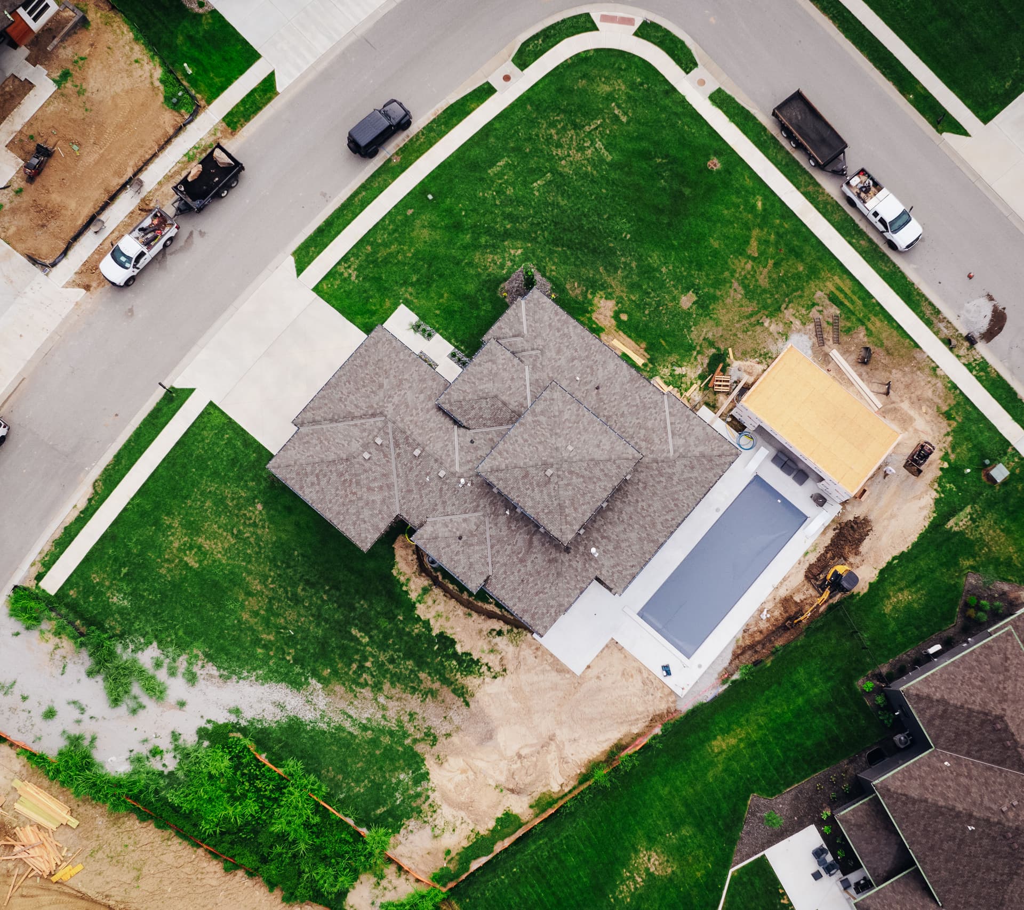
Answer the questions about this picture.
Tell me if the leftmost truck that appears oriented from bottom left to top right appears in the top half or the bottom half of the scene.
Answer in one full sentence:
The leftmost truck that appears oriented from bottom left to top right is in the top half of the image.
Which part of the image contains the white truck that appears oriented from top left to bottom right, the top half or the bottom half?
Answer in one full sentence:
The white truck that appears oriented from top left to bottom right sits in the top half of the picture.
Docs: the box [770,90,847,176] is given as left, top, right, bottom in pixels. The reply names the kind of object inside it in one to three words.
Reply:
trailer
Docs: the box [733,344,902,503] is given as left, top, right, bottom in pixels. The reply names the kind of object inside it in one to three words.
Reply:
building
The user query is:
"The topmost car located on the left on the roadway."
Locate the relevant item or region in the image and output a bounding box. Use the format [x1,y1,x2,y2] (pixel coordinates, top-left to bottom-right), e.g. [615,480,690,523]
[350,99,411,151]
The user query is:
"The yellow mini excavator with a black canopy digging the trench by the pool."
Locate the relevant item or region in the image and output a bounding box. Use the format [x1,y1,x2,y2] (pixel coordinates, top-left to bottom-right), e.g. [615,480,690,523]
[787,567,863,629]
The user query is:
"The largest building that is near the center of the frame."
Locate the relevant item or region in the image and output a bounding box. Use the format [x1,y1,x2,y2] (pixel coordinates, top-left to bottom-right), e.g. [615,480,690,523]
[266,285,743,638]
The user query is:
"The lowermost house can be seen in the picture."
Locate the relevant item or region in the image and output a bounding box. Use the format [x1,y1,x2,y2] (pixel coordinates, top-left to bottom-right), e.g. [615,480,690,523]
[831,604,1024,910]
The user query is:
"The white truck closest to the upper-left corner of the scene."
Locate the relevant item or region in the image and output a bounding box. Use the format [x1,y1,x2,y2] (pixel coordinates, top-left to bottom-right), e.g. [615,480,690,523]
[105,210,181,290]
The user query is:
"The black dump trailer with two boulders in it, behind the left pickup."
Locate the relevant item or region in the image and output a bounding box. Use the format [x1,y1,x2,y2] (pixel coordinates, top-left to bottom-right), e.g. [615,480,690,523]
[173,145,244,218]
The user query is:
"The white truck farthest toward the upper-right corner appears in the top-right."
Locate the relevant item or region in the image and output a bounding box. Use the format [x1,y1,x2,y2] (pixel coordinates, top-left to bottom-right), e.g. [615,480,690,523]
[840,170,919,254]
